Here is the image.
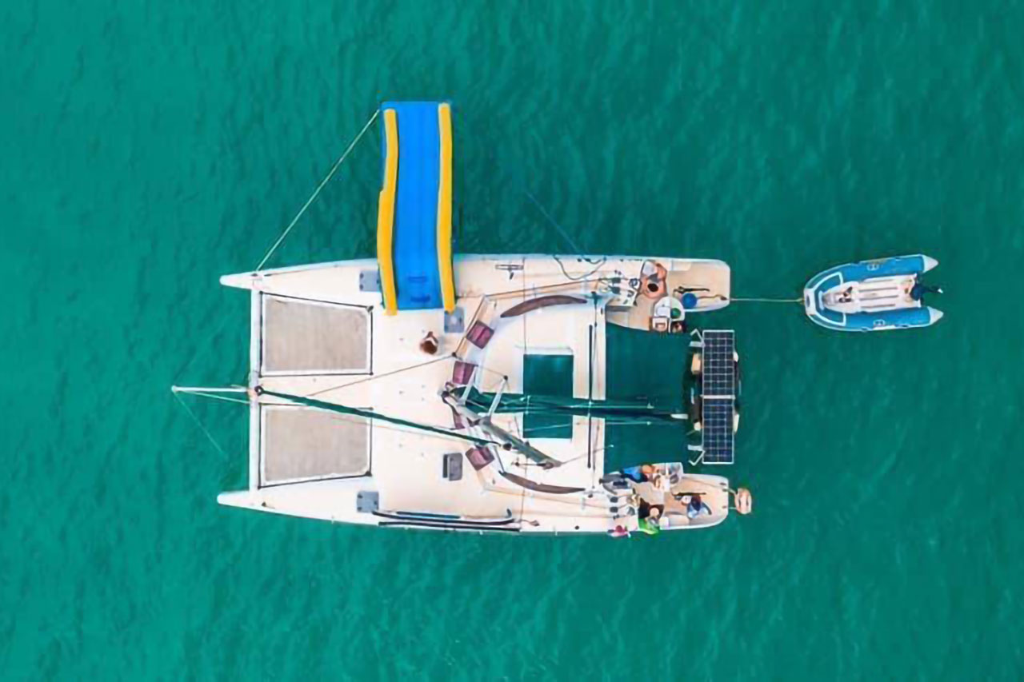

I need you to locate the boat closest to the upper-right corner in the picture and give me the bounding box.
[804,255,944,333]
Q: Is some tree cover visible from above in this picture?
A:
No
